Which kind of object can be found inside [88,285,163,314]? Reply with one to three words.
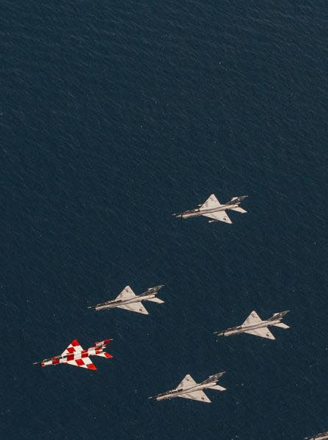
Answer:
airplane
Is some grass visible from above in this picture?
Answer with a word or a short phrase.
No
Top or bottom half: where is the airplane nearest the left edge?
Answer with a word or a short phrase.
bottom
